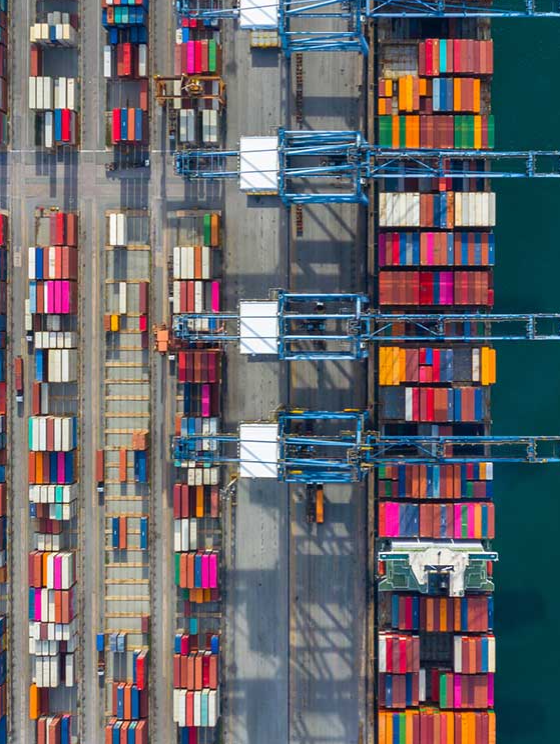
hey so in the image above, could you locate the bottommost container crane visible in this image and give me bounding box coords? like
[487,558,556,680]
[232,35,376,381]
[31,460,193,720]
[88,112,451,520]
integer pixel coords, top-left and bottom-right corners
[173,392,560,486]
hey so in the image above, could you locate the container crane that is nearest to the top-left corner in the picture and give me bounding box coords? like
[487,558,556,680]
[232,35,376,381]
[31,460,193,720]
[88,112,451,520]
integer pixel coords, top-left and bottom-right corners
[153,73,229,111]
